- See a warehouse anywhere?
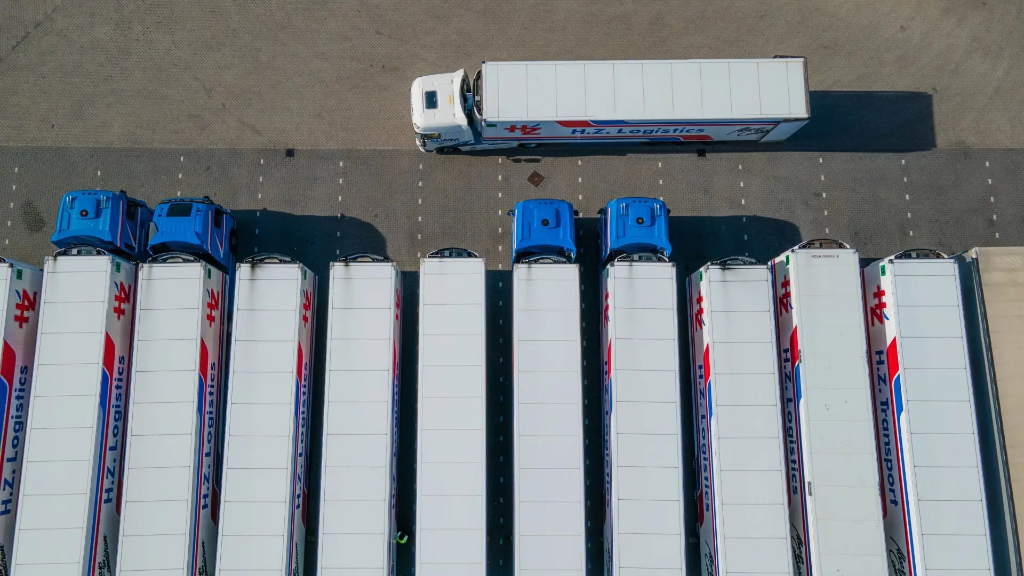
No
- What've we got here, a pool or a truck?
truck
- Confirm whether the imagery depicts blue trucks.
Yes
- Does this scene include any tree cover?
No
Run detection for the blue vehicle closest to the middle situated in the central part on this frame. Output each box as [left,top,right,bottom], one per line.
[508,198,581,264]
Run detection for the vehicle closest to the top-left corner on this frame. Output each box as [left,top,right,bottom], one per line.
[51,190,151,267]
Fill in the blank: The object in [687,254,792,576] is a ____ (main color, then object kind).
white trailer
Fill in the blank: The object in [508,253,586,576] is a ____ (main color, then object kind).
white trailer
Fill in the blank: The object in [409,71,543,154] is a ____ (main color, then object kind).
white truck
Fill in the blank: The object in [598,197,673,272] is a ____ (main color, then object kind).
blue truck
